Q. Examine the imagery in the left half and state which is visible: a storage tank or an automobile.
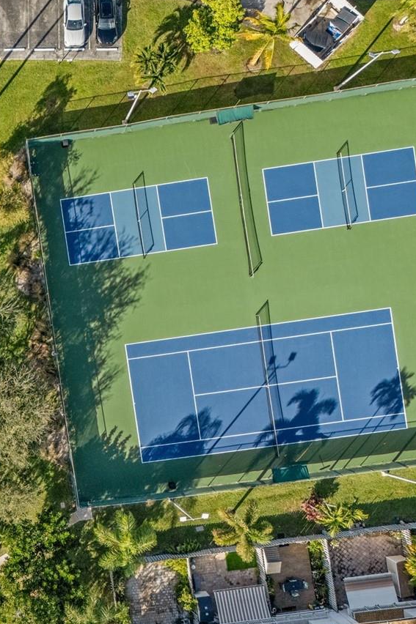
automobile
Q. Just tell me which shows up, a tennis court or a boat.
tennis court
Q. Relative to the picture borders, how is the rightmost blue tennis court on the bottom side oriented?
from side to side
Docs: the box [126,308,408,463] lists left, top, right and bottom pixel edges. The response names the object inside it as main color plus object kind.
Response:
blue tennis court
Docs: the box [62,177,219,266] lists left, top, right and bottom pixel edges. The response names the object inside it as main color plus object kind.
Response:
blue sports court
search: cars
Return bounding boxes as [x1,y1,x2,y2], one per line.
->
[95,0,123,46]
[62,0,89,47]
